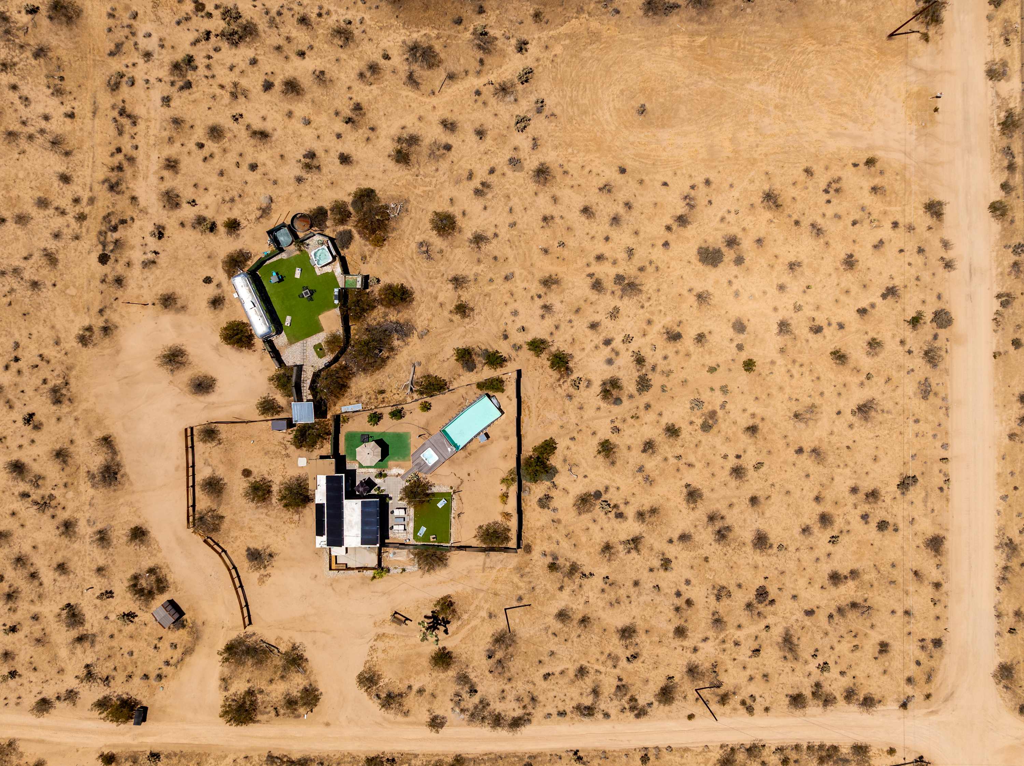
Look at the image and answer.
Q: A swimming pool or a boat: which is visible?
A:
swimming pool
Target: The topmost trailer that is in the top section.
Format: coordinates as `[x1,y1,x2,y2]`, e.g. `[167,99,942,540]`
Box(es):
[233,268,276,341]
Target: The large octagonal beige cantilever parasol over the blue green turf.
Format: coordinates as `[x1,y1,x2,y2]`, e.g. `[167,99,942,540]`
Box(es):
[357,434,380,465]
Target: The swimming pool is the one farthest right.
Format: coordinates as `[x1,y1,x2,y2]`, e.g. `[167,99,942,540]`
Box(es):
[434,387,508,457]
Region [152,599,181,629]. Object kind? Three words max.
shed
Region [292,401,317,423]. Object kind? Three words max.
shed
